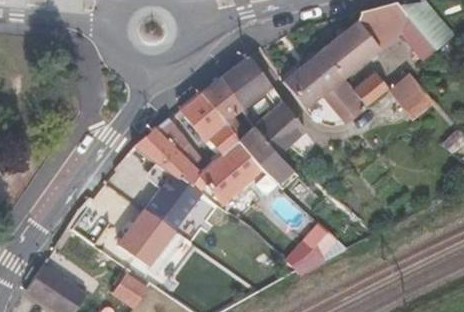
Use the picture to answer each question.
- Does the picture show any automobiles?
Yes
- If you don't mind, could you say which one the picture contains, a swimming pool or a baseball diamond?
swimming pool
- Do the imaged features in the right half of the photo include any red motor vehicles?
No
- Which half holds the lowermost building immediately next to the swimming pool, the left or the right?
right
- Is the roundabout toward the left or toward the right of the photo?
left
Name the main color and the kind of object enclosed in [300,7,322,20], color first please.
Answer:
white vehicle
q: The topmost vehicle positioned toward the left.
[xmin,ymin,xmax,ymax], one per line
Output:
[78,134,96,154]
